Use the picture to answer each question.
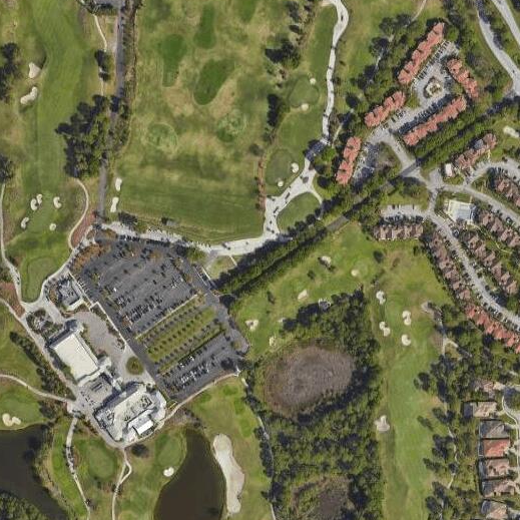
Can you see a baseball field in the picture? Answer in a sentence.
No, there is no baseball field in the image.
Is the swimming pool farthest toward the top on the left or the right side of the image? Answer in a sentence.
It is on the right.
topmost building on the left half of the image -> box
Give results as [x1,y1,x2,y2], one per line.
[56,275,87,310]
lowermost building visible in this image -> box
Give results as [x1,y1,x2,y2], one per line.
[481,500,509,519]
